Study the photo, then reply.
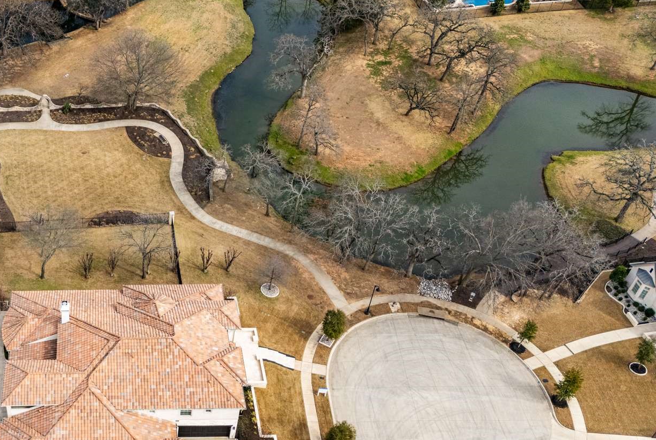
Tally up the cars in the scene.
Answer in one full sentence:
There are no cars in this view.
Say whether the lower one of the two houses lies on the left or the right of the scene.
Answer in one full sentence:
The lower one of the two houses appears in the left half of the scene.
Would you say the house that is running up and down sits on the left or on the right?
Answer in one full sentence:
The house that is running up and down is on the right side of the image.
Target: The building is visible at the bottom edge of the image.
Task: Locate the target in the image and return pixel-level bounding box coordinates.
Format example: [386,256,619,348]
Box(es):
[0,284,250,440]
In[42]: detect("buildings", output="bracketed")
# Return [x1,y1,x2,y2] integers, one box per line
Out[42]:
[0,284,250,440]
[624,236,656,308]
